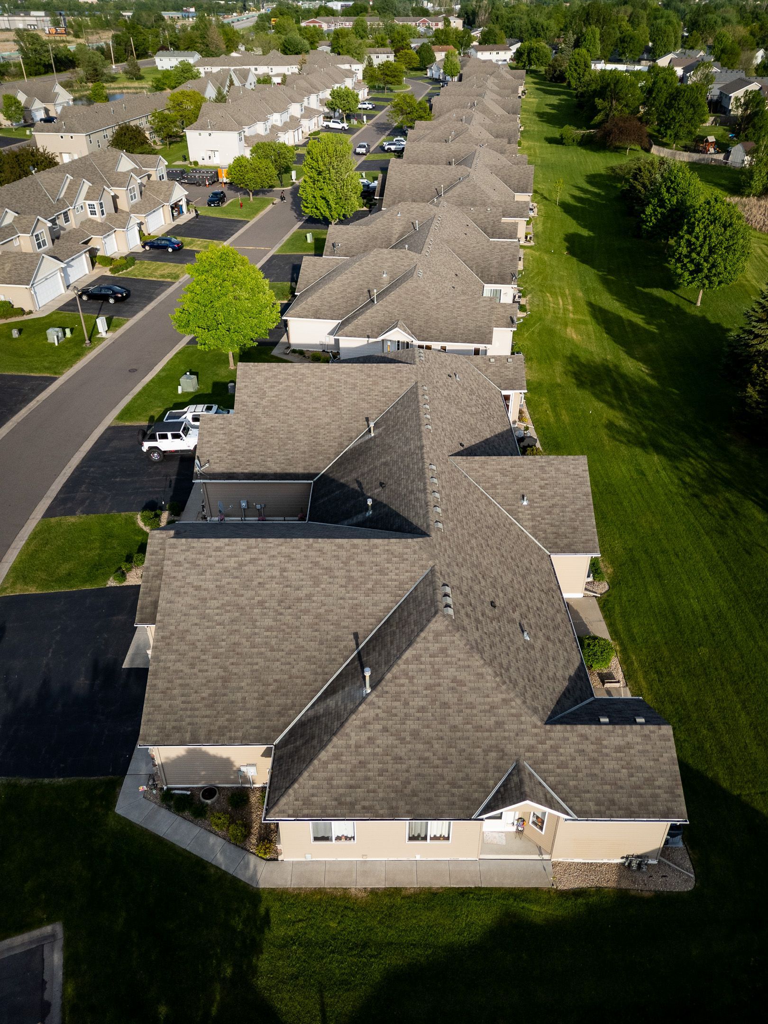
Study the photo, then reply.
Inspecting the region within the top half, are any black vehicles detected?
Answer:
Yes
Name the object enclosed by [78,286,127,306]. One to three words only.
car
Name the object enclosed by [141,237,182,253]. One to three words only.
car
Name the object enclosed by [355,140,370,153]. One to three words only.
vehicle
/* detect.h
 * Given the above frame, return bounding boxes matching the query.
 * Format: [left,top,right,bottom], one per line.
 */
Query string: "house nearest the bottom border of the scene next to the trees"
[134,342,694,881]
